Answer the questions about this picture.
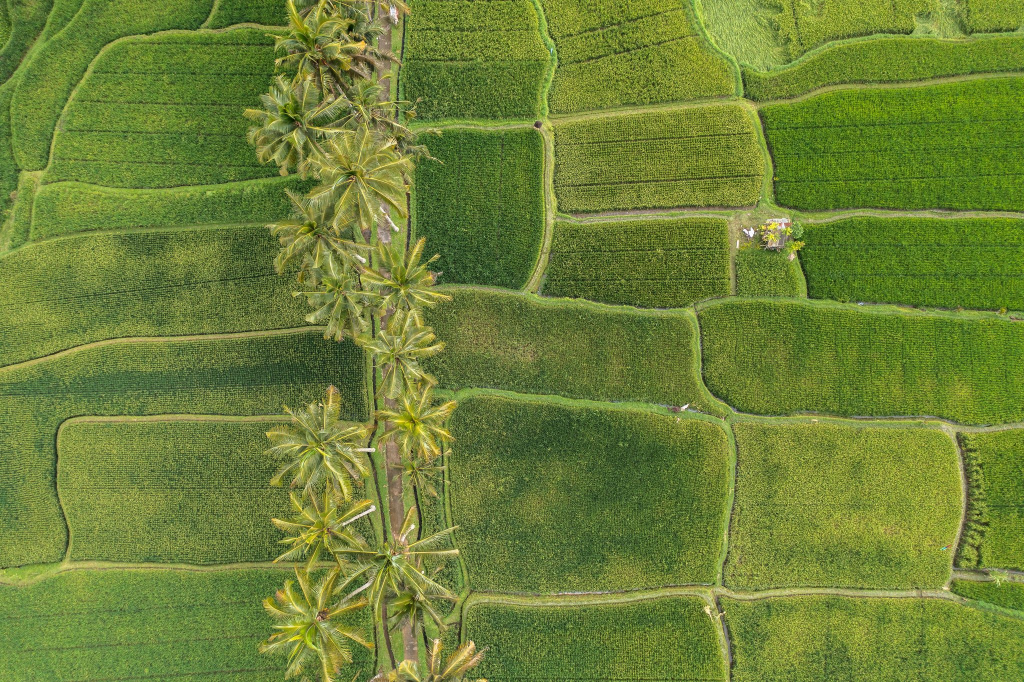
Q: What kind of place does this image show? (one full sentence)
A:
The picture captures farmland.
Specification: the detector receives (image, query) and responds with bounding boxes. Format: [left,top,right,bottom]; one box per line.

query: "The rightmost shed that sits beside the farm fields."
[758,218,794,250]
